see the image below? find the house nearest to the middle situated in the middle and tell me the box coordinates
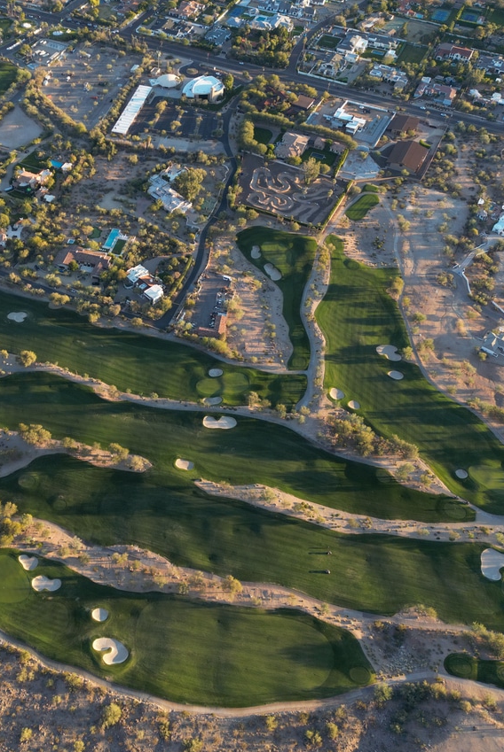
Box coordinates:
[197,317,230,342]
